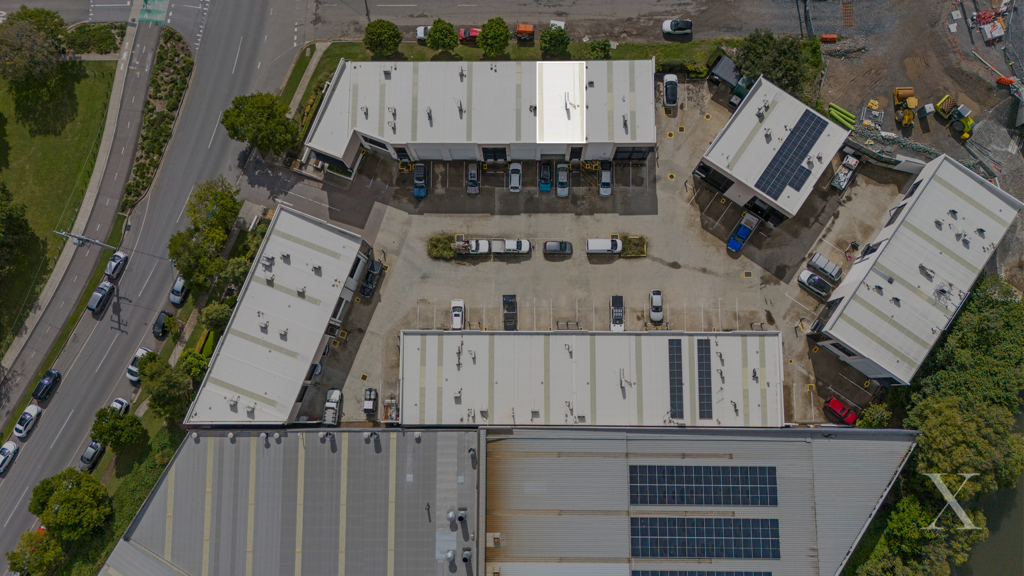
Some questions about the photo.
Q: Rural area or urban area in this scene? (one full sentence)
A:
The land in this view is best described as urban.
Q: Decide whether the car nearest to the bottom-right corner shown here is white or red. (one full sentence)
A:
The car nearest to the bottom-right corner is red.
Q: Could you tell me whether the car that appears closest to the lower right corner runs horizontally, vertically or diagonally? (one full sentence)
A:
In this picture, the car that appears closest to the lower right corner is oriented diagonally.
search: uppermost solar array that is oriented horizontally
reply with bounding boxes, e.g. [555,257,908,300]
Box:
[630,466,778,507]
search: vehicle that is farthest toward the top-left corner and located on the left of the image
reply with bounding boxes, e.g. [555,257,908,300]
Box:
[102,249,132,282]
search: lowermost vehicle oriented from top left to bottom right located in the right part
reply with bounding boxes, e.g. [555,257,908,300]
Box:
[823,395,859,425]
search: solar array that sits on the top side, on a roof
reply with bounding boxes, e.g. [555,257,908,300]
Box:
[758,110,828,200]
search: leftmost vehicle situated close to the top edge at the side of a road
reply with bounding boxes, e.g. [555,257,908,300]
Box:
[412,24,433,42]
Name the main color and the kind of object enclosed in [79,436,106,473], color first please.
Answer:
gray car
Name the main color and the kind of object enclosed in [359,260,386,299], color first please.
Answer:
black truck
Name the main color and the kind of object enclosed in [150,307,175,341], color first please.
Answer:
black car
